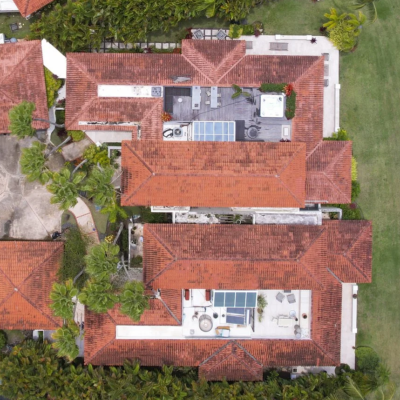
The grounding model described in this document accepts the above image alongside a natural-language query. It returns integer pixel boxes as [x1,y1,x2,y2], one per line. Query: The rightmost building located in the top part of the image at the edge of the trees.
[42,34,353,225]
